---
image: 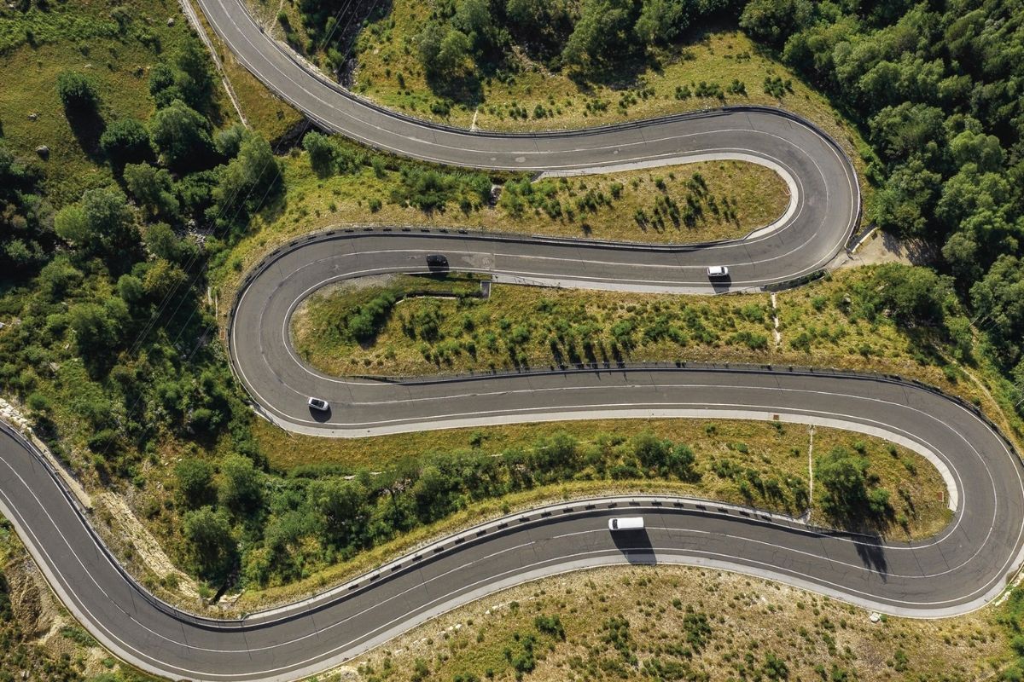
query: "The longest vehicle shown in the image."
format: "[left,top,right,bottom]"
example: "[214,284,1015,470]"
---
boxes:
[609,519,646,535]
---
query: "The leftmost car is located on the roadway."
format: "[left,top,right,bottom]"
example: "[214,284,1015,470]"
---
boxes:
[306,396,329,411]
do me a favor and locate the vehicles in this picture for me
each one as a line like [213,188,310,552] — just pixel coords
[609,519,646,535]
[306,396,329,411]
[426,254,447,265]
[708,265,730,276]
